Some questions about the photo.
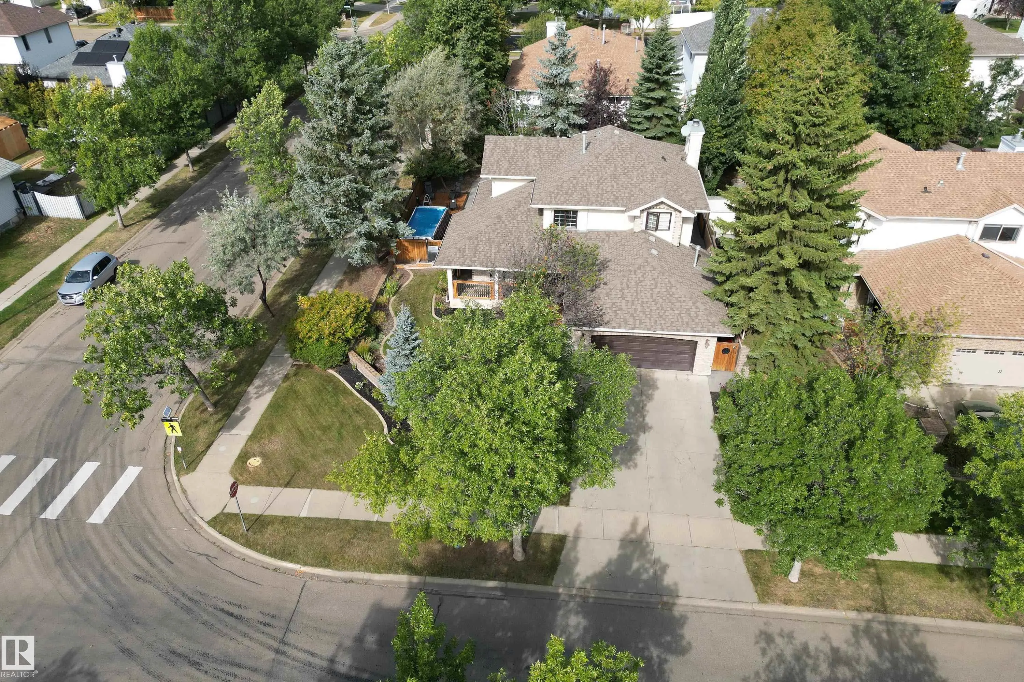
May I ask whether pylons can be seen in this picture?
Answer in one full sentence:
No, the frame has no pylon in it.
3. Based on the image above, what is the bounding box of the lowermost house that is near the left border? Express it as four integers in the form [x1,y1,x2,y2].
[0,169,41,227]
